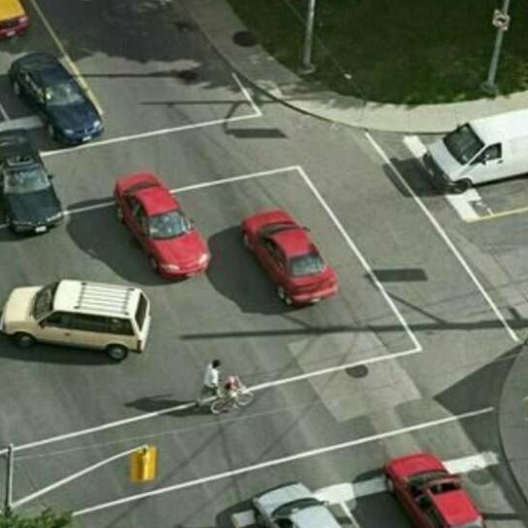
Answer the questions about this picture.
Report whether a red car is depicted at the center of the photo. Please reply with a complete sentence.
Yes, a red car can be seen at the center of the photo.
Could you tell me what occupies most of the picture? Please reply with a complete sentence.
For the most part, this view shows paved ground.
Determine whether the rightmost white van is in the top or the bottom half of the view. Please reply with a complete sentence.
It is in the top half that the rightmost white van appears.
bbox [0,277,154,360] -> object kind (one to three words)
car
